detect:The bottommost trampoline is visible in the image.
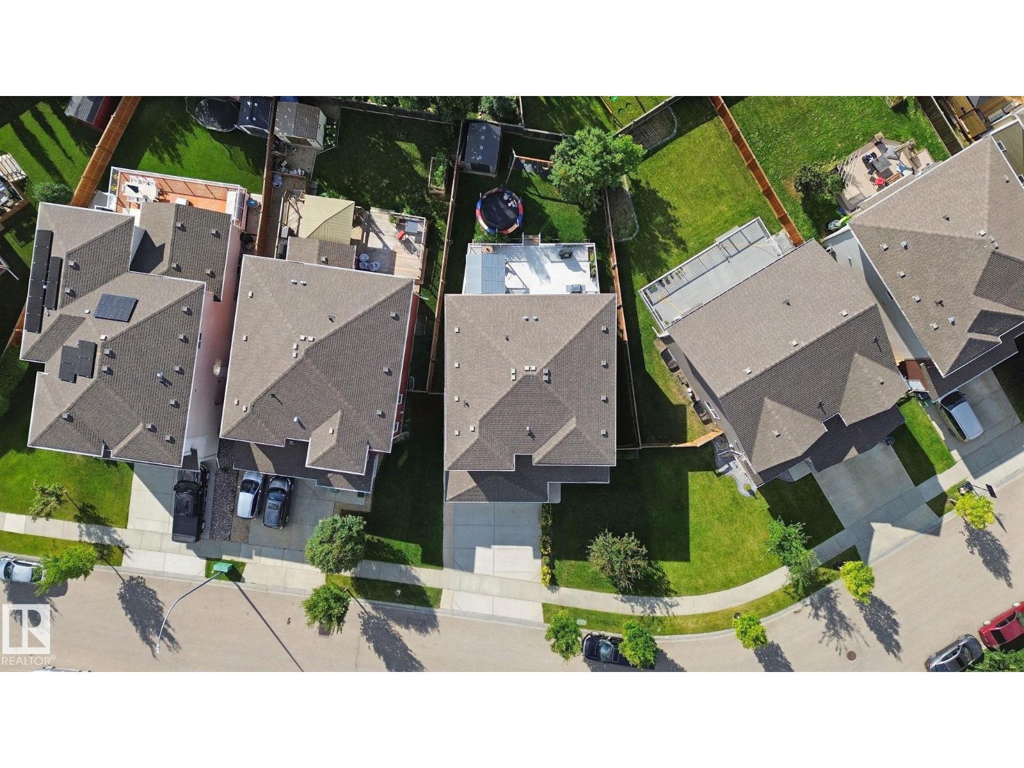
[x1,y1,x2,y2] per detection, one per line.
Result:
[476,187,524,236]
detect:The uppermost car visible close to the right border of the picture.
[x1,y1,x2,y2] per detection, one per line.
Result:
[927,392,986,451]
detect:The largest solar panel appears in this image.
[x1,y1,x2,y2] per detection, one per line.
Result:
[91,292,137,320]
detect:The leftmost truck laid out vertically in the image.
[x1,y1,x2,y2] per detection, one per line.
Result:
[171,463,214,547]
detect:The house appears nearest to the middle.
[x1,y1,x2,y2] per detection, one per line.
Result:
[443,293,618,503]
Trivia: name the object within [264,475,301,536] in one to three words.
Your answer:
car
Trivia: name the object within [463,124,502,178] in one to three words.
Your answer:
shed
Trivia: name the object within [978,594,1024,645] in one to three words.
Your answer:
car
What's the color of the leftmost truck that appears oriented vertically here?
black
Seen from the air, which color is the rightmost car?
red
